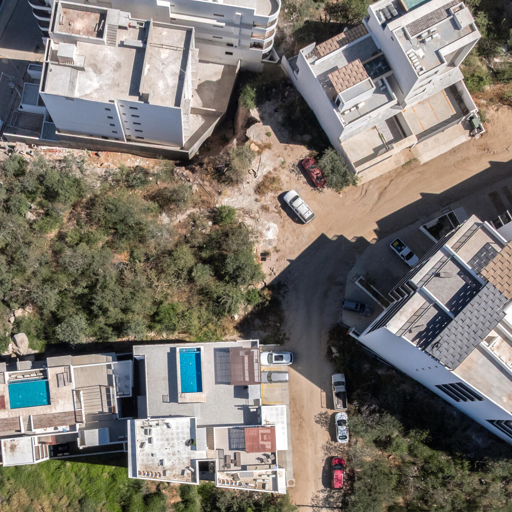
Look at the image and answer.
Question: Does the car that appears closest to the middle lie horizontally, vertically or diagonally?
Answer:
diagonally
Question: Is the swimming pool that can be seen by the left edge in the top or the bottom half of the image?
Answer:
bottom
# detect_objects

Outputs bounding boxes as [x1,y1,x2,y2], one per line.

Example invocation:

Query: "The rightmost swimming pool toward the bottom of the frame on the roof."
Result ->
[179,347,202,393]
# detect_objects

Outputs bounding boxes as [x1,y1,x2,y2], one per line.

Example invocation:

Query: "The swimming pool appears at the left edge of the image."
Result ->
[6,376,54,411]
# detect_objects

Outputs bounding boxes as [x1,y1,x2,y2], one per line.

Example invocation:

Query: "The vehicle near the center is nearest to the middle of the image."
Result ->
[285,189,316,224]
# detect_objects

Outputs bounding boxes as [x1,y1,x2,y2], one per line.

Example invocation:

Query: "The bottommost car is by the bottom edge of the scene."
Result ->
[330,457,346,489]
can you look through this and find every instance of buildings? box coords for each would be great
[128,339,287,494]
[0,353,138,466]
[280,0,480,177]
[3,0,238,162]
[361,215,512,442]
